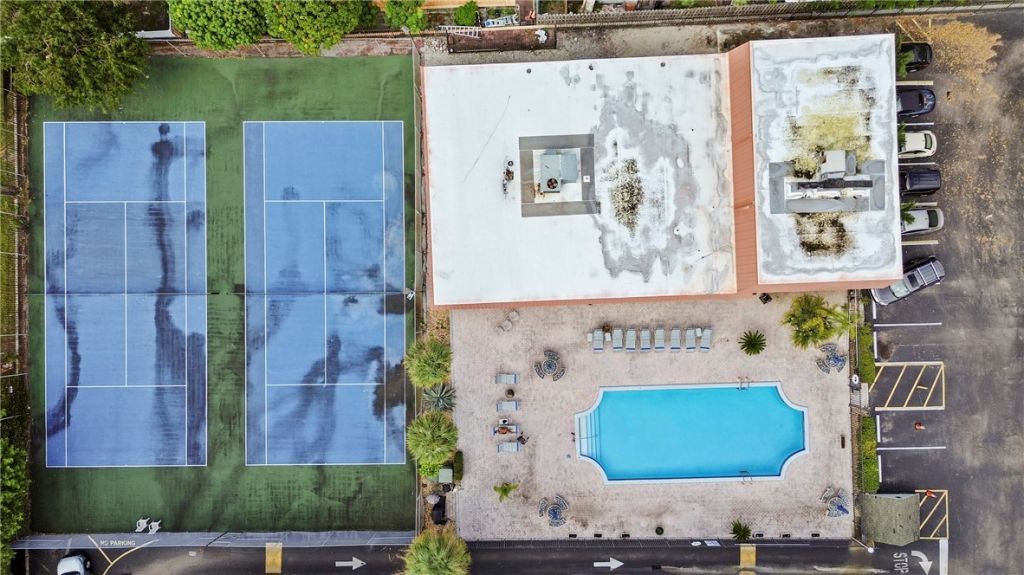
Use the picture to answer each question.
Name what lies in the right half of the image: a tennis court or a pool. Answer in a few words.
pool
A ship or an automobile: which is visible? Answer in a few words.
automobile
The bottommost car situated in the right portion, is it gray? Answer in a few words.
Yes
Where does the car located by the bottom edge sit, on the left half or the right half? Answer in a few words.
left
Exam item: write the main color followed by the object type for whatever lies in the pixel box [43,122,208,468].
blue tennis court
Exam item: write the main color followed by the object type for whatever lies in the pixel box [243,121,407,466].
blue tennis court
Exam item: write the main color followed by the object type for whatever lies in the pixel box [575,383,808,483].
blue swimming pool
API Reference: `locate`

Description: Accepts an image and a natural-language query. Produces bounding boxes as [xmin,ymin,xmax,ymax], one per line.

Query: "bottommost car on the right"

[871,257,946,305]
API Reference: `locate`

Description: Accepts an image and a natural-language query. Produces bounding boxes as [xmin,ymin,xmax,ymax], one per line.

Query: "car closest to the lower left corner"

[58,552,90,575]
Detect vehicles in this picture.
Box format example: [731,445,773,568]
[896,89,932,119]
[899,168,940,198]
[58,552,90,575]
[900,207,939,236]
[897,131,934,160]
[871,257,946,305]
[894,45,934,77]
